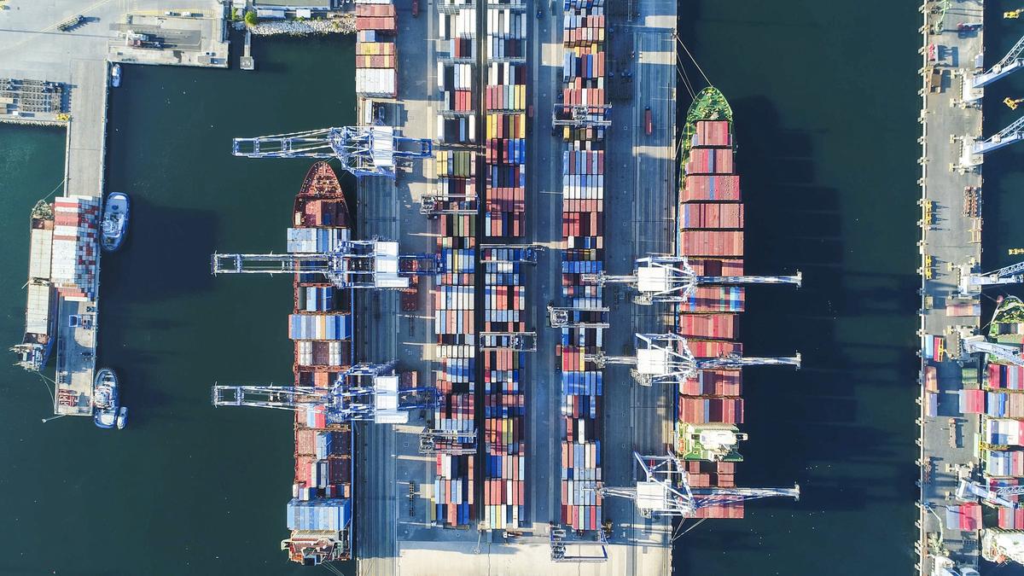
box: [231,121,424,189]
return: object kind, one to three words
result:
container crane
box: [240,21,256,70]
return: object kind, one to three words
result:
pier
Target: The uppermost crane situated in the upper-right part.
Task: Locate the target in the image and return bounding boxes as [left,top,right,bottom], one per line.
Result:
[948,27,1024,112]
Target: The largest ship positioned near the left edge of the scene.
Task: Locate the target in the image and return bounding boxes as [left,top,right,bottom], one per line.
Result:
[11,199,58,371]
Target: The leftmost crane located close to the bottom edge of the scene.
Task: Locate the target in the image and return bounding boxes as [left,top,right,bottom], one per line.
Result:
[549,526,609,563]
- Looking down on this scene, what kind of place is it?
port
